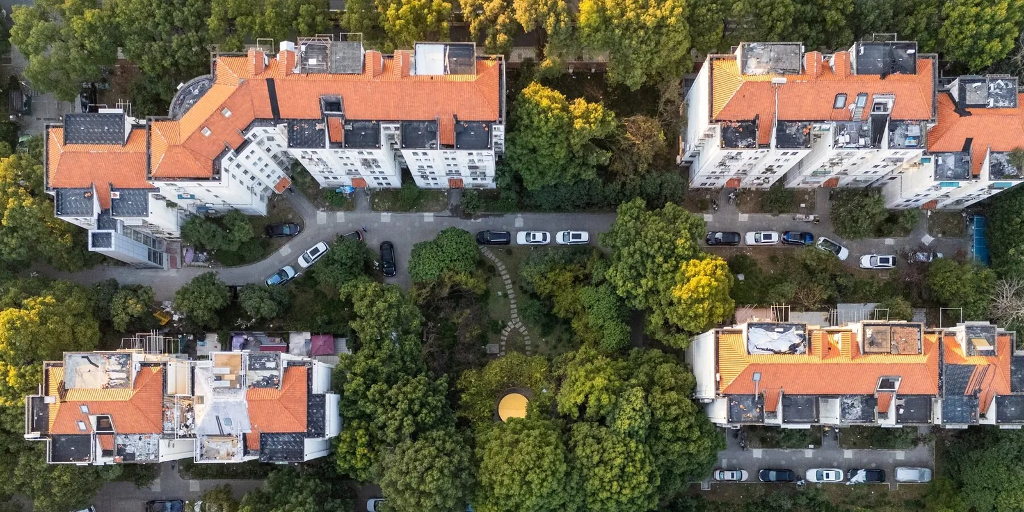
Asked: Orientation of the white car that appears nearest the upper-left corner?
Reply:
diagonally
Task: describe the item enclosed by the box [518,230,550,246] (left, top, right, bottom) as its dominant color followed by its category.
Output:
white car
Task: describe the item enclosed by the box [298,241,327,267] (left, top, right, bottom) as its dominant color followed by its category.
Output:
white car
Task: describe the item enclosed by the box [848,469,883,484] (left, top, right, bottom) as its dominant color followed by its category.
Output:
black car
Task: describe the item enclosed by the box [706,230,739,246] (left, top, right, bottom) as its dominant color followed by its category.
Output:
black car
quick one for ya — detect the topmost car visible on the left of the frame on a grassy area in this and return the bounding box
[266,221,298,237]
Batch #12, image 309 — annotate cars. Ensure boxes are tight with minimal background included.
[380,241,396,276]
[759,468,793,483]
[807,468,842,484]
[335,232,367,245]
[706,230,739,246]
[267,265,295,286]
[745,230,779,246]
[266,221,298,237]
[479,230,510,246]
[557,230,588,245]
[364,500,395,512]
[82,83,99,113]
[715,468,746,483]
[781,230,812,246]
[859,253,895,269]
[848,469,883,484]
[148,499,183,512]
[815,236,846,260]
[518,230,550,246]
[298,241,327,267]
